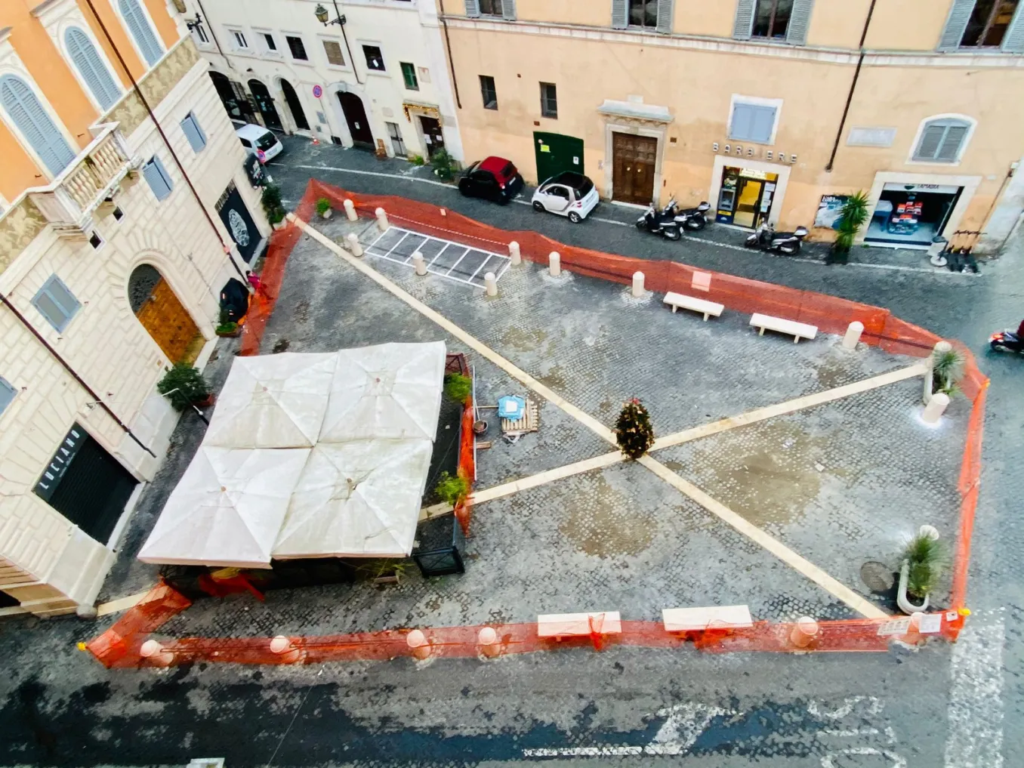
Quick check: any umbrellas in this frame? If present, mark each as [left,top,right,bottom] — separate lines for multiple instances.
[272,441,436,565]
[316,341,447,447]
[137,446,317,564]
[204,352,337,449]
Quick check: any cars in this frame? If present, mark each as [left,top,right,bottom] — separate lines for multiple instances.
[530,163,605,225]
[230,113,278,163]
[445,155,520,209]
